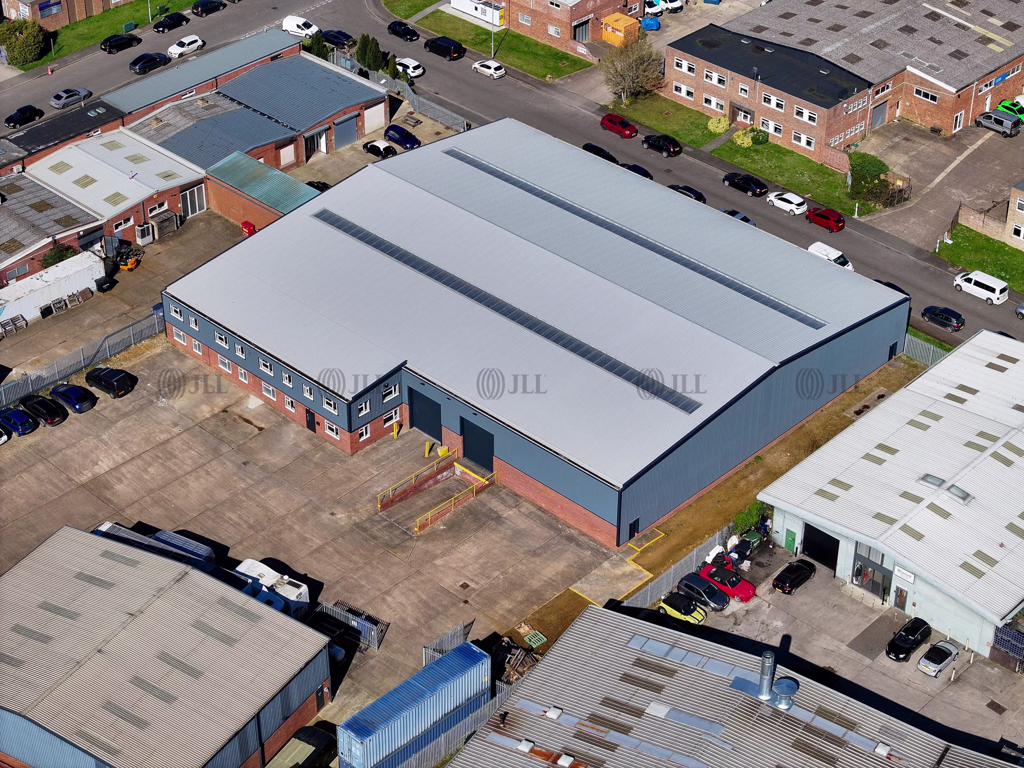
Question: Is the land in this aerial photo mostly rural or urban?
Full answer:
From above, the setting appears urban.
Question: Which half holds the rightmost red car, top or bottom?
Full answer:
Seen from above, the rightmost red car lies in the top half of the view.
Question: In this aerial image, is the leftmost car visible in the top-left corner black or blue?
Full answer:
The color of the leftmost car visible in the top-left corner is black.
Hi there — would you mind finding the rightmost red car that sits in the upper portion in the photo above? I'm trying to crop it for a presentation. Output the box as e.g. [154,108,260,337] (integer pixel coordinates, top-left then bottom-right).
[804,207,848,233]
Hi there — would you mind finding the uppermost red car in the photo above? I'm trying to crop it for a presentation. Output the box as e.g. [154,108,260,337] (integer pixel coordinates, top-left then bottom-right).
[600,114,636,138]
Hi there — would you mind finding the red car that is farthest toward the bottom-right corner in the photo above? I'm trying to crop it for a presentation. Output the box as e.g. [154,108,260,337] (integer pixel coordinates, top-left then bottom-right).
[716,562,759,603]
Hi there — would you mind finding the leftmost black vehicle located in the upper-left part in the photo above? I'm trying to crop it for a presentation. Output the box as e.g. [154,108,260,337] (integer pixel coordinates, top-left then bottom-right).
[4,104,41,128]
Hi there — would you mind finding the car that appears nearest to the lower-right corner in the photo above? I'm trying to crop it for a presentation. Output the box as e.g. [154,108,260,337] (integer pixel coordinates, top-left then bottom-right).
[917,642,959,678]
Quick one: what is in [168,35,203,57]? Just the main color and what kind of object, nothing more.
white car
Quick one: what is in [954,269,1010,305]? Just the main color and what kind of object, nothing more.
white van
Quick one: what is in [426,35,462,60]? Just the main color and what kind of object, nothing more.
black vehicle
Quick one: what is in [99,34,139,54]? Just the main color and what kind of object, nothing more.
black car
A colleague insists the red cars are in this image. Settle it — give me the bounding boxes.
[600,114,636,138]
[716,562,759,603]
[804,207,848,233]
